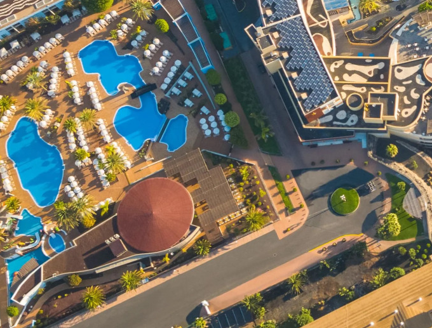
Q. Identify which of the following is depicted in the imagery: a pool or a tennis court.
pool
